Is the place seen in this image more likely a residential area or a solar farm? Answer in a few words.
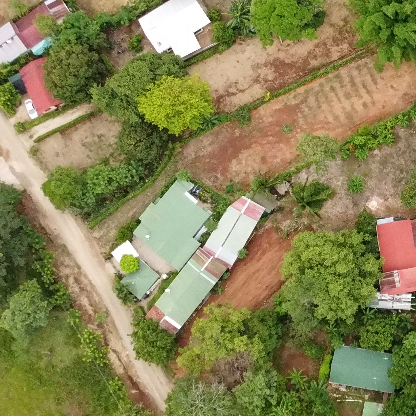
residential area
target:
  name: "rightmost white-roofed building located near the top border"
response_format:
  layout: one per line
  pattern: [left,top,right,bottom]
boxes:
[138,0,211,57]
